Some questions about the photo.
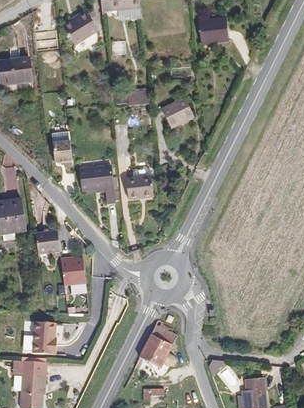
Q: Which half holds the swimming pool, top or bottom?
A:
bottom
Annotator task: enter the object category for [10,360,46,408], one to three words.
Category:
house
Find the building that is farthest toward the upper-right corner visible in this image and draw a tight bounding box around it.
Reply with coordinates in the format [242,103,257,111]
[197,16,230,44]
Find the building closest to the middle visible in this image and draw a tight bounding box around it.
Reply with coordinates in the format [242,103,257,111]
[126,164,154,202]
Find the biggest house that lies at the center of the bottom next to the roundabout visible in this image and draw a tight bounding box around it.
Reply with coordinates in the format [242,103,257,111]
[139,318,181,370]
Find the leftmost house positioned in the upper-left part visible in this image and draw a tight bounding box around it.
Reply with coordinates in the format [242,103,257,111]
[0,47,34,91]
